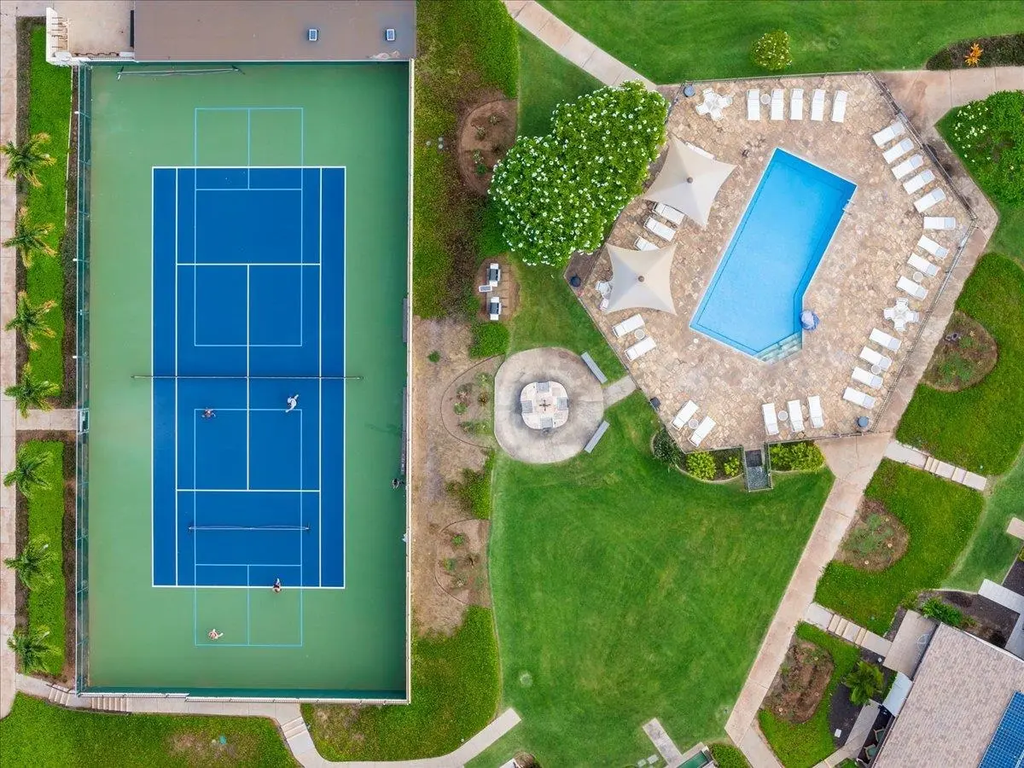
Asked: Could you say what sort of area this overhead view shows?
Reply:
sports ground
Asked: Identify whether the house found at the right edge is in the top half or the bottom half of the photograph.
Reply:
bottom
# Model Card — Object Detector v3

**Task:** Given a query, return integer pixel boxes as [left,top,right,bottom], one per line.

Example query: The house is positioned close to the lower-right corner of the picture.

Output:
[869,619,1024,768]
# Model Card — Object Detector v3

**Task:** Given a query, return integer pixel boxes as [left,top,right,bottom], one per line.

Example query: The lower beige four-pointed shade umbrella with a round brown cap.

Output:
[606,244,677,315]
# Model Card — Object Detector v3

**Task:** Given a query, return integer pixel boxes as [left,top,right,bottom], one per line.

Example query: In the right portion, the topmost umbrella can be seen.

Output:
[643,133,737,228]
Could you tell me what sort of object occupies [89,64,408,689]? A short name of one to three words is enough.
tennis court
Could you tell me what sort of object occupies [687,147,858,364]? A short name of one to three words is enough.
swimming pool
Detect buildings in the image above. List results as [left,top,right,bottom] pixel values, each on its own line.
[869,619,1024,768]
[130,0,417,62]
